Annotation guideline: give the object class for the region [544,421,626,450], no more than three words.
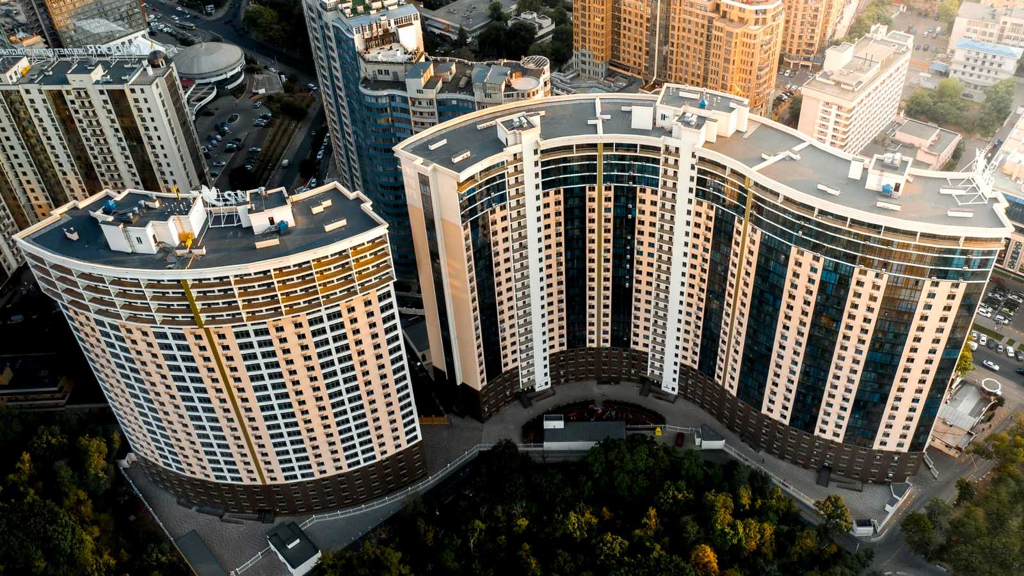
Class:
building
